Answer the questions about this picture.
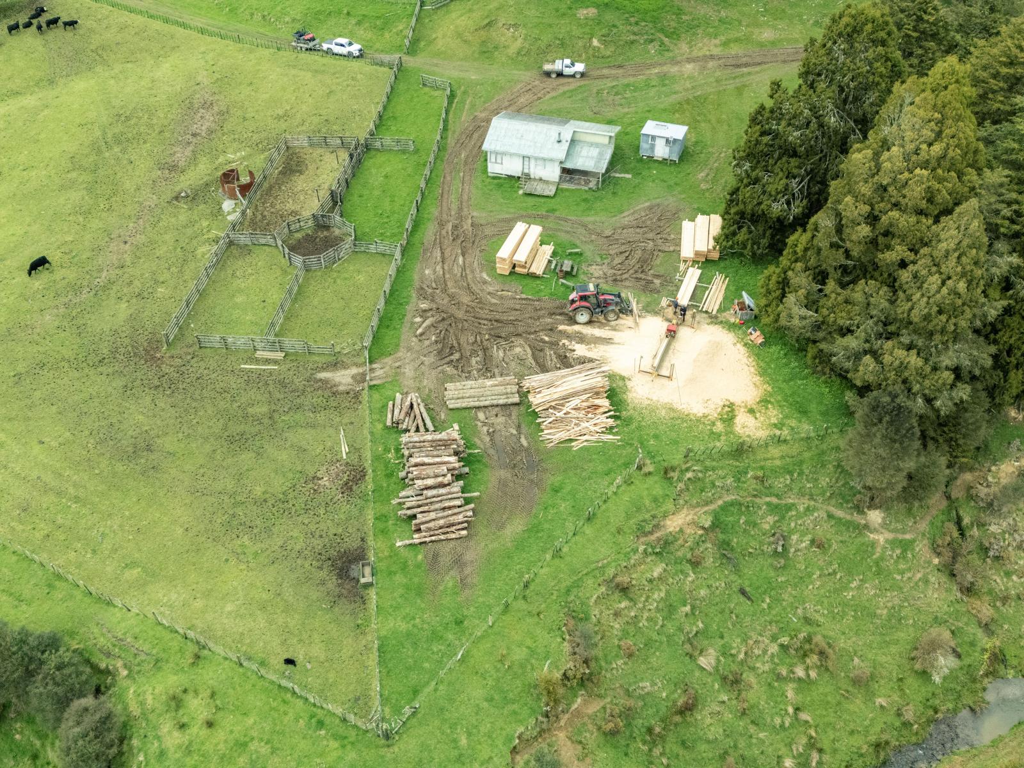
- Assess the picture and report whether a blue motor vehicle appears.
No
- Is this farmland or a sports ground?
farmland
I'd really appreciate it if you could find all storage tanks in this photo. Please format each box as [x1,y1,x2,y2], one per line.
[216,170,255,200]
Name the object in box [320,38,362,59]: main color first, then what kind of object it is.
white truck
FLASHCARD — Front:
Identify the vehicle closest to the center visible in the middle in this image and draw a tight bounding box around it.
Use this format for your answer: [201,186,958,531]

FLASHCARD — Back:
[567,288,638,325]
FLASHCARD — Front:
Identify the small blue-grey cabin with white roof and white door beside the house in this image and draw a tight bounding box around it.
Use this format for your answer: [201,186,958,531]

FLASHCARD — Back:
[642,118,685,160]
